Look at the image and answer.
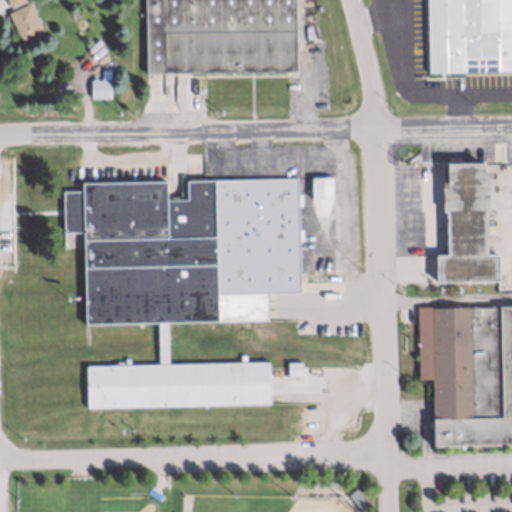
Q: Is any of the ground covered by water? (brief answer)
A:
No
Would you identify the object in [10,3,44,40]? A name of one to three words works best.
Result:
house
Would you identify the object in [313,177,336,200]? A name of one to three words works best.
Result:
shed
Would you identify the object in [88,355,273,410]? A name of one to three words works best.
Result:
building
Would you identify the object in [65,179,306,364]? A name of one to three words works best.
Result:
building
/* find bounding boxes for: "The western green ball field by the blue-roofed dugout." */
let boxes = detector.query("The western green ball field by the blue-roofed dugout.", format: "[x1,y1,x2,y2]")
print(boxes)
[12,472,184,512]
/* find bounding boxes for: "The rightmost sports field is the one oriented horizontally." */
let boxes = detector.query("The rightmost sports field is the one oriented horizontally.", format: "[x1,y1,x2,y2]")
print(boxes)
[169,470,377,512]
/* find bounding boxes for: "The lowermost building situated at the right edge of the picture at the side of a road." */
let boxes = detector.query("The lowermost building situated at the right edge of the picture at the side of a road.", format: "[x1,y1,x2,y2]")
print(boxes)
[419,306,512,446]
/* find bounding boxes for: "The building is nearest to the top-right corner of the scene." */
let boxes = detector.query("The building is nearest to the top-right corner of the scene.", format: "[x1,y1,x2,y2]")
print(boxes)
[426,0,512,81]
